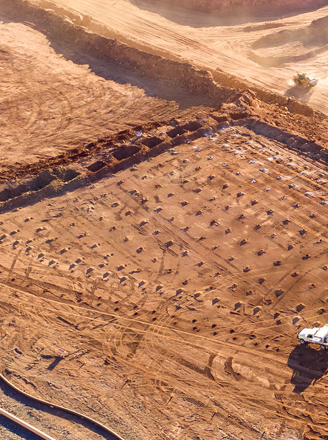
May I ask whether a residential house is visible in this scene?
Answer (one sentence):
No, the frame has no residential house in it.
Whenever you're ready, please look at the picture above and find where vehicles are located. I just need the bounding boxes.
[293,70,320,89]
[292,320,328,350]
